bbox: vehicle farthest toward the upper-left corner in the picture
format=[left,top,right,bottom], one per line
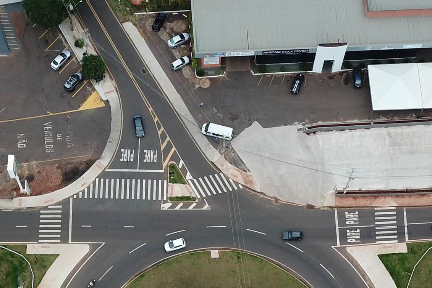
[49,48,71,69]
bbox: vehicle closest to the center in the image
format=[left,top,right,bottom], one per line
[204,121,233,138]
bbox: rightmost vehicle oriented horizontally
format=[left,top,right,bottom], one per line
[280,229,304,241]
